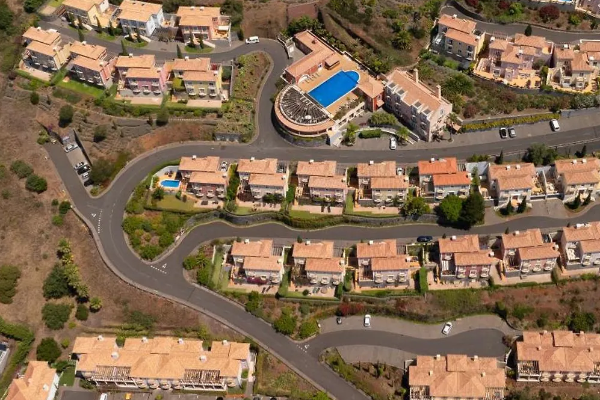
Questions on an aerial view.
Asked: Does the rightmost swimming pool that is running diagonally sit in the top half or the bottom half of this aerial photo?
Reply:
top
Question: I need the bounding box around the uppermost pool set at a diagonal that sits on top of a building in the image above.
[307,69,361,110]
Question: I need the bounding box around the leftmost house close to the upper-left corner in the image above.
[10,20,73,82]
